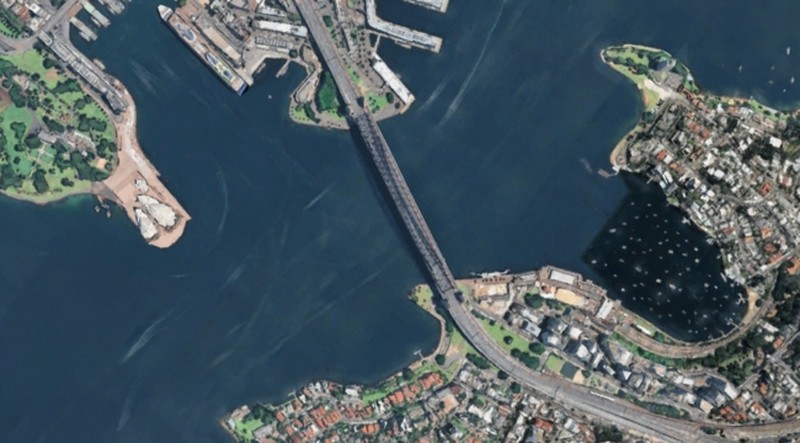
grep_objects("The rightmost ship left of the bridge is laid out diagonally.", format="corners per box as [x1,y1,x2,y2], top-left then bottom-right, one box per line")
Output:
[158,6,251,98]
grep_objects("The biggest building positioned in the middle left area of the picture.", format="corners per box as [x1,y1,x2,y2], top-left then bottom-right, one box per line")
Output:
[127,174,184,243]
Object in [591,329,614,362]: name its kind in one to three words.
building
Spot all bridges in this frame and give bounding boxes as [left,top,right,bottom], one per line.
[295,0,536,382]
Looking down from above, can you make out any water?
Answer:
Yes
